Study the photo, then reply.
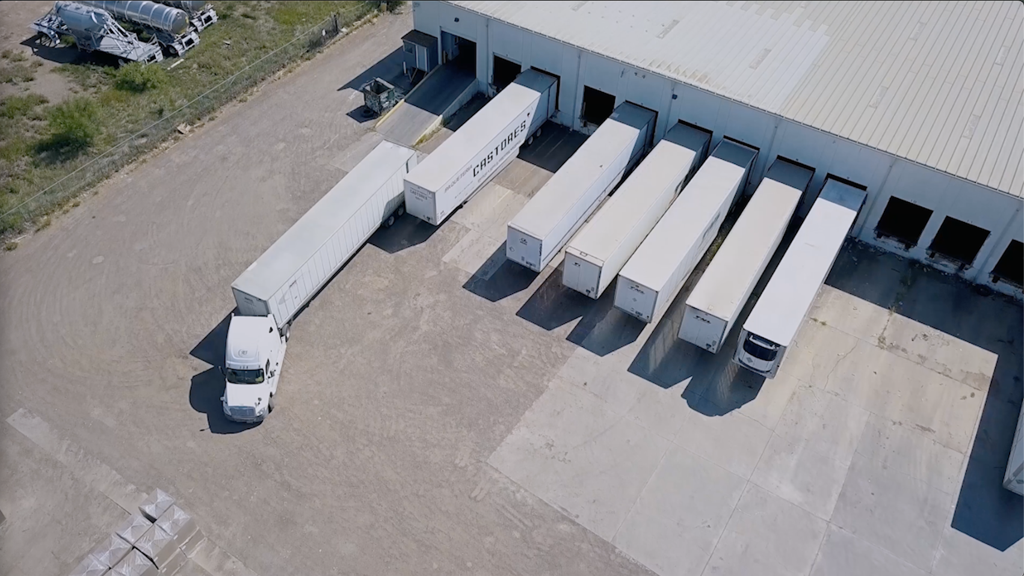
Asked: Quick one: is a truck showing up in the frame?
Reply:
Yes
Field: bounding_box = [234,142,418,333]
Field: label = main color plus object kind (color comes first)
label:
white trailer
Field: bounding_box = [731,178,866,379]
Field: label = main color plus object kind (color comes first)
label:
white trailer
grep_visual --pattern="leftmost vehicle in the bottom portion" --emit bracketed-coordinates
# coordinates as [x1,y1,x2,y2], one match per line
[218,313,297,423]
